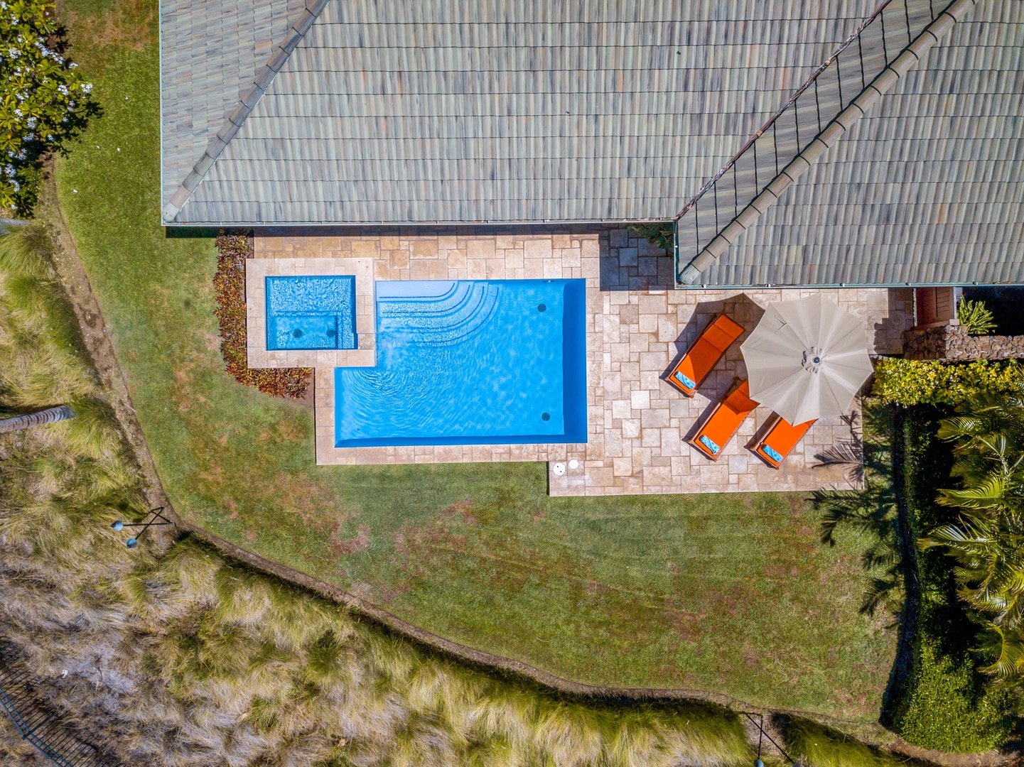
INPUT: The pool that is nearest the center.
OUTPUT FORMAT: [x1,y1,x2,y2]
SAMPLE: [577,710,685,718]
[315,277,606,465]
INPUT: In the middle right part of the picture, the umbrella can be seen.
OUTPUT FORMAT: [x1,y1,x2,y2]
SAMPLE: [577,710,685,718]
[740,293,873,425]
